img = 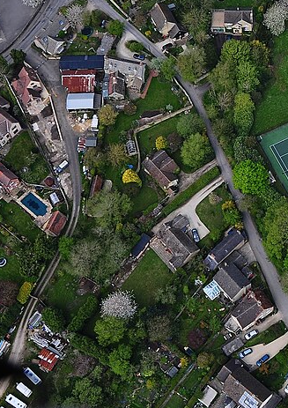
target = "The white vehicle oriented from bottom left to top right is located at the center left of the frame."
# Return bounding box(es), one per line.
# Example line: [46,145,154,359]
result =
[54,160,70,172]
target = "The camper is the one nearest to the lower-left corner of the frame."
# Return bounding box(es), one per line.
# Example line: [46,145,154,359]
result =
[8,395,24,408]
